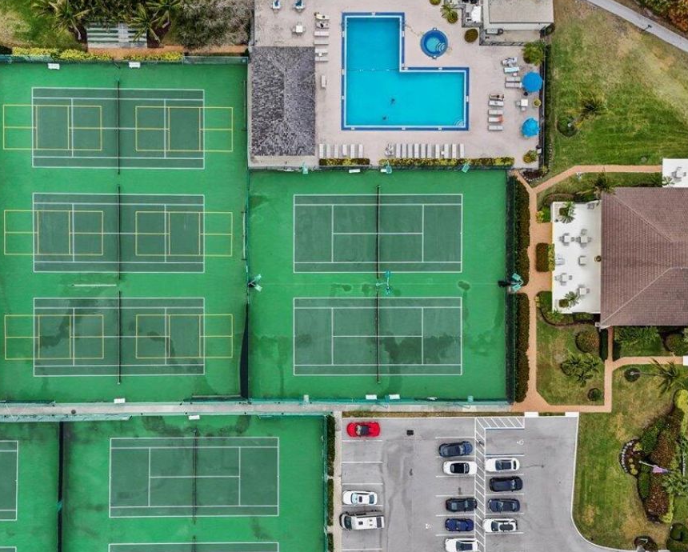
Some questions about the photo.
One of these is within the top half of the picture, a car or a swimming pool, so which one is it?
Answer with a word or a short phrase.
swimming pool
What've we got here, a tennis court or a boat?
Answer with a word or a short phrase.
tennis court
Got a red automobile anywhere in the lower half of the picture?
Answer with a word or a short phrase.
Yes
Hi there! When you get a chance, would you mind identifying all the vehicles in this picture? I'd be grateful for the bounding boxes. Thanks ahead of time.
[487,476,523,493]
[443,461,476,477]
[442,498,478,514]
[342,491,377,505]
[346,422,380,438]
[443,537,480,552]
[339,511,386,531]
[481,517,518,535]
[442,517,476,534]
[486,498,520,514]
[484,458,519,475]
[437,442,472,458]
